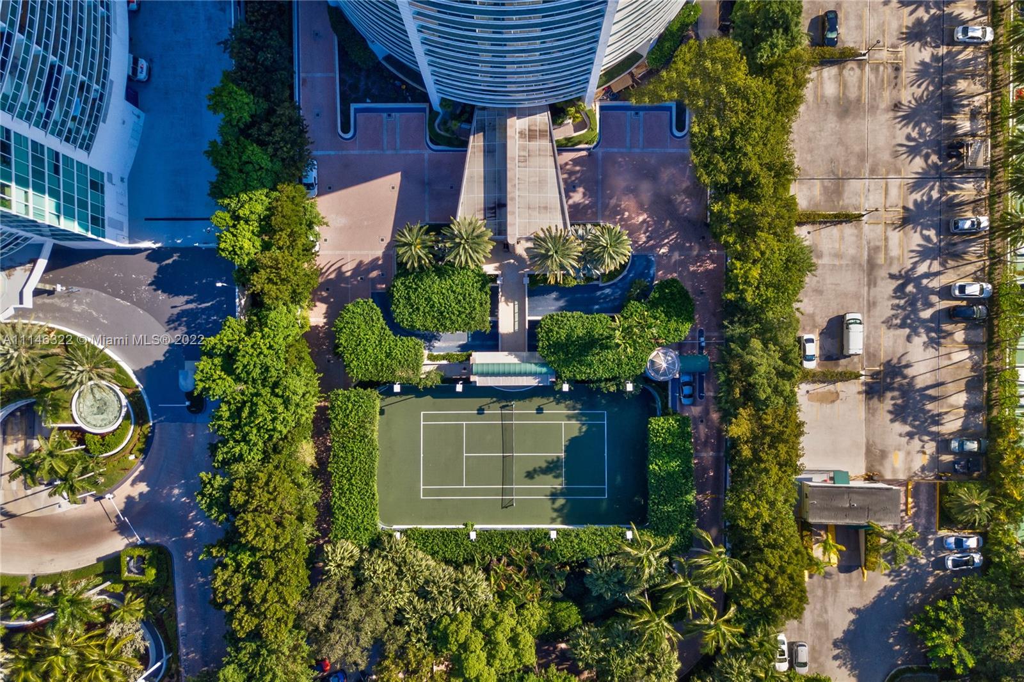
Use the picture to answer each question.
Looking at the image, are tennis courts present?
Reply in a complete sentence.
Yes, the frame does contain a tennis court.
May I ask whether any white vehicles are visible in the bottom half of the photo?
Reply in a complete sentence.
Yes, a white vehicle is visible in the bottom half of the photo.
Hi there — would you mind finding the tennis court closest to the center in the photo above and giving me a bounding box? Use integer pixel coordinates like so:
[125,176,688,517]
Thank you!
[381,383,658,524]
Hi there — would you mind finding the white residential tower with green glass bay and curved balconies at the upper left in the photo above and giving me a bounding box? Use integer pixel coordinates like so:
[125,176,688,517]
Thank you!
[0,0,143,246]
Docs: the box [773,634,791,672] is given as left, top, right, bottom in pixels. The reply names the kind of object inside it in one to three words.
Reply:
car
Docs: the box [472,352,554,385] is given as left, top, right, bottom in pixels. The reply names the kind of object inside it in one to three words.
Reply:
building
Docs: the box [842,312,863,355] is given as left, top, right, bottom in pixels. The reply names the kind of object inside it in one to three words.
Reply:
vehicle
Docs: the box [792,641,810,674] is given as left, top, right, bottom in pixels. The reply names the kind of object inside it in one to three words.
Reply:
car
